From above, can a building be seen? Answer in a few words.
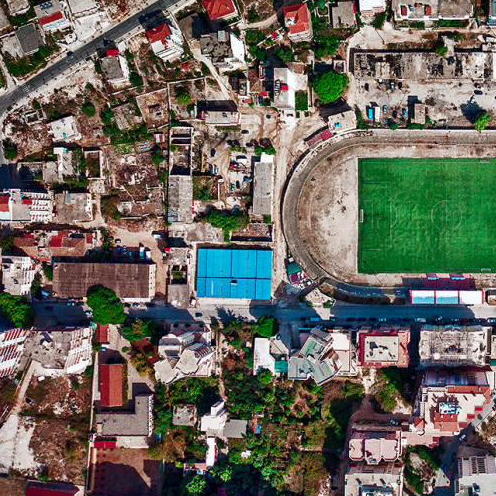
Yes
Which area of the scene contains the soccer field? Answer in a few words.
right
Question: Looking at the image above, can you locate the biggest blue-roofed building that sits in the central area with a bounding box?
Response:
[196,248,276,299]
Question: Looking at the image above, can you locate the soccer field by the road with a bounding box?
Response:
[358,158,496,273]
